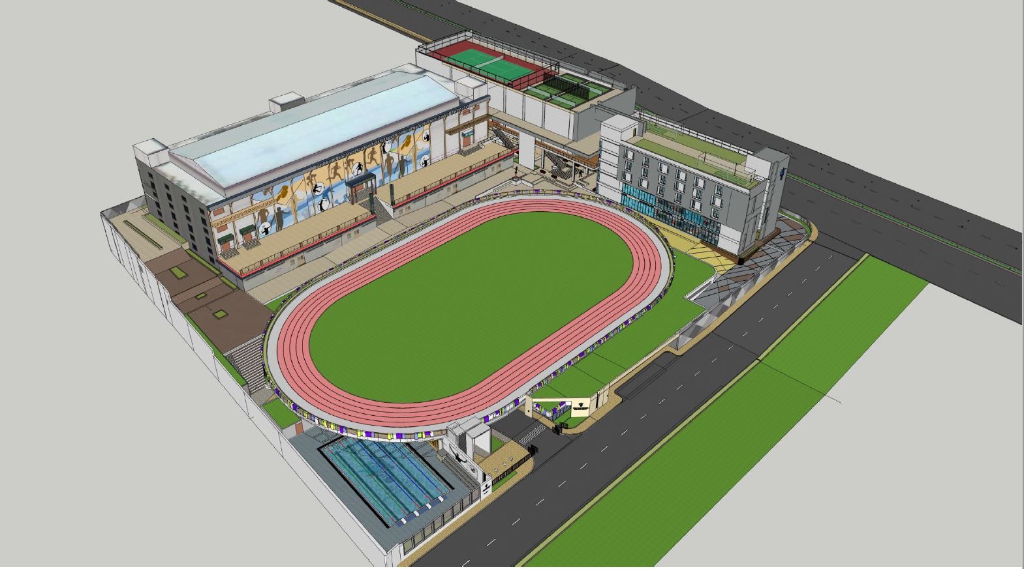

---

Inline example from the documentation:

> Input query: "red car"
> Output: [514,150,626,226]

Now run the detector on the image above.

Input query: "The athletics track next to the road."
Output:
[276,198,660,427]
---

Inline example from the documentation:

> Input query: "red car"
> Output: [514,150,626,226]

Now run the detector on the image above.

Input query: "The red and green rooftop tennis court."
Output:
[425,38,557,90]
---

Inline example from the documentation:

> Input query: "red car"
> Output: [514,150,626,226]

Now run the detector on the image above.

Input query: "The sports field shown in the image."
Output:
[309,211,632,402]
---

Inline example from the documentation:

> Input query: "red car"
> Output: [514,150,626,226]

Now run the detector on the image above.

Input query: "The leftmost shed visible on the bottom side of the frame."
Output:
[262,398,303,438]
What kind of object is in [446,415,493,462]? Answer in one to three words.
building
